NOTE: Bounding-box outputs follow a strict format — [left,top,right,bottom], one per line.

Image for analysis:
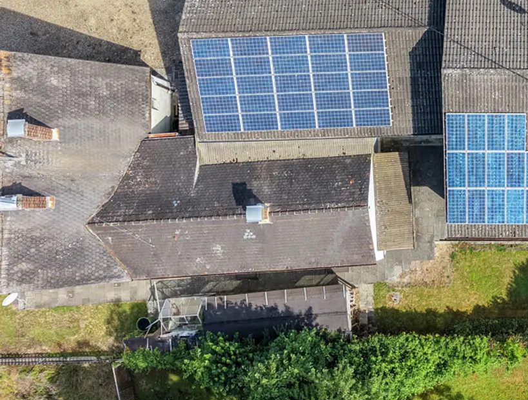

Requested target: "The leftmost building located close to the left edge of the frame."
[0,48,176,287]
